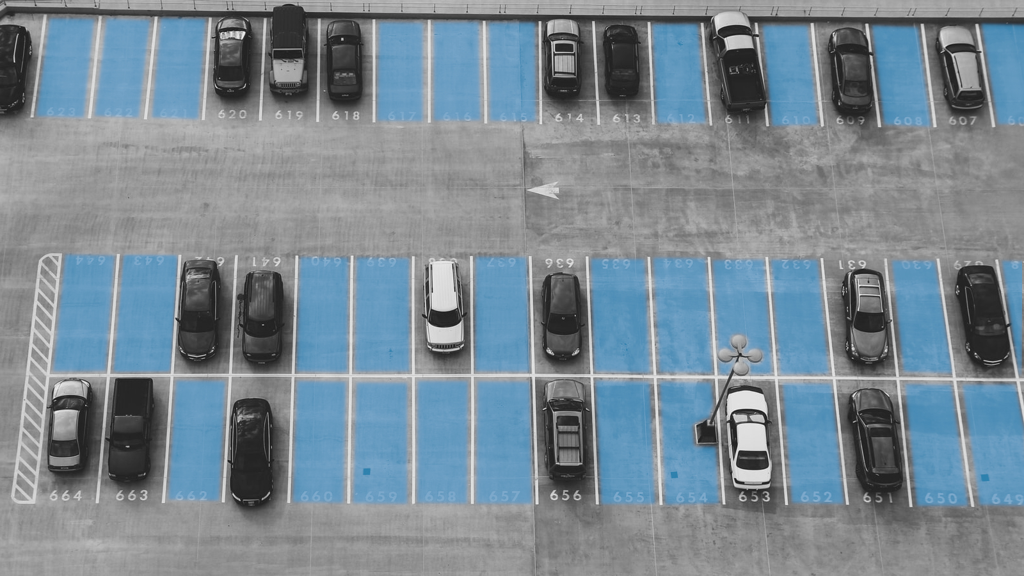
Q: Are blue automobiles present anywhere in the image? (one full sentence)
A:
No, there appears to be no blue automobile in this shot.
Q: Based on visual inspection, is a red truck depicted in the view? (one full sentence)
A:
No, there appears to be no red truck in this shot.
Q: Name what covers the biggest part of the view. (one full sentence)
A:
For the most part, this view shows paved ground.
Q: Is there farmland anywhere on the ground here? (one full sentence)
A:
No, farmland can't be seen anywhere here.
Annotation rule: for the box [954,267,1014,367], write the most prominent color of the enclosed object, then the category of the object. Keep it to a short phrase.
black car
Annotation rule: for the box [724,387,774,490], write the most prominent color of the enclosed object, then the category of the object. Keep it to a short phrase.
white car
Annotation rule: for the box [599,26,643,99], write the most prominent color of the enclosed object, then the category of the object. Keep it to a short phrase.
black car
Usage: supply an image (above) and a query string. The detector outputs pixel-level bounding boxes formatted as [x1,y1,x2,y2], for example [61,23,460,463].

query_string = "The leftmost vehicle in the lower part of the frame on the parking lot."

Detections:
[43,379,94,472]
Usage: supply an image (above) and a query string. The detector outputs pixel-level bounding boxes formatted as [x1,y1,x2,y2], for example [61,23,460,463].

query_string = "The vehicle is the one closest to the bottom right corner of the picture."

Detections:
[848,389,906,491]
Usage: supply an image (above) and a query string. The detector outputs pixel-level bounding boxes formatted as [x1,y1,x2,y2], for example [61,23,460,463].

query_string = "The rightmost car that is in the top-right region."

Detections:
[935,27,984,110]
